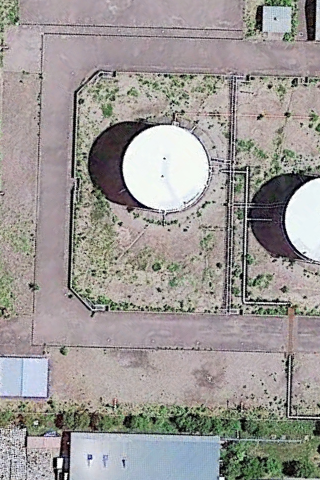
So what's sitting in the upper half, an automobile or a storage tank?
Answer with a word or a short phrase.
storage tank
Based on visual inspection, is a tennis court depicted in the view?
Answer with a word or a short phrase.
No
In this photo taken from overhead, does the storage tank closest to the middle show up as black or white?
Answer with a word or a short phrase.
white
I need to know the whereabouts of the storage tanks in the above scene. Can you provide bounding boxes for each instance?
[278,172,320,268]
[118,118,217,217]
